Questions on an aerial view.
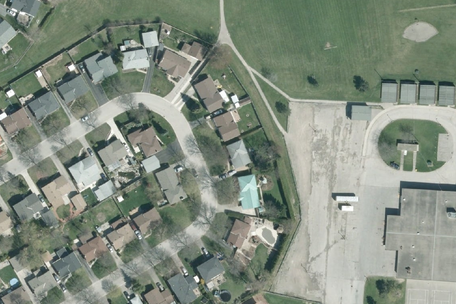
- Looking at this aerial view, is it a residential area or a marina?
residential area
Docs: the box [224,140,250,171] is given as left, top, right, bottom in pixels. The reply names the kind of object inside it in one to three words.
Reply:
house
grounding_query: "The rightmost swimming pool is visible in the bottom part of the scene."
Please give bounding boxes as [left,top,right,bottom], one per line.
[262,228,275,246]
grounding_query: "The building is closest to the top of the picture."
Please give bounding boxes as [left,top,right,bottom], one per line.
[9,0,40,18]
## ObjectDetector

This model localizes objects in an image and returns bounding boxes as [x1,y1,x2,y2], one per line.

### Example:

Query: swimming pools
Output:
[262,228,275,246]
[220,291,232,302]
